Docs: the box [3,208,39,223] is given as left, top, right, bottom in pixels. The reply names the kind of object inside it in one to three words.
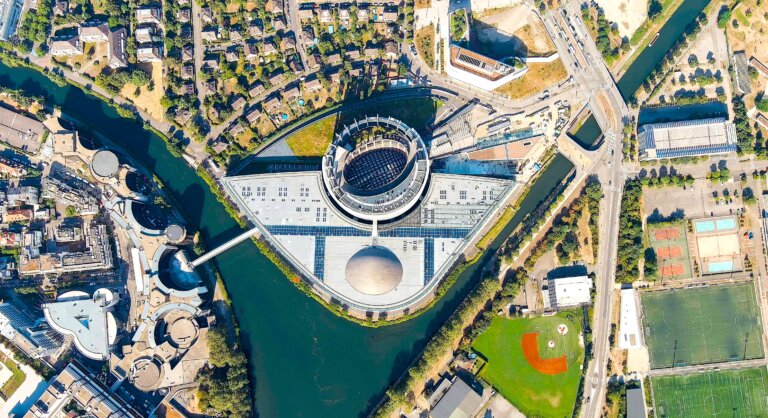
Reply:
house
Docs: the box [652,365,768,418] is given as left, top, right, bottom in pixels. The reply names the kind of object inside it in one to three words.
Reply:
soccer field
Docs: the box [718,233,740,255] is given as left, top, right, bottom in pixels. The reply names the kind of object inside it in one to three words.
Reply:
sports court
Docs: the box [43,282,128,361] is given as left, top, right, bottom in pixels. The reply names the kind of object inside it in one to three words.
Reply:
building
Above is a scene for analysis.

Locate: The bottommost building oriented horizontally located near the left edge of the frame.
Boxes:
[22,357,153,418]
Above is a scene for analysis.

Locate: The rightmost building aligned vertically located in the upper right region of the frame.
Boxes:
[730,50,750,94]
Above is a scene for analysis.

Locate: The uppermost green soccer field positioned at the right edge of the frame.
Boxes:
[641,280,766,368]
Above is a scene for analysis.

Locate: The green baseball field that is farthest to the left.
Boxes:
[472,311,585,418]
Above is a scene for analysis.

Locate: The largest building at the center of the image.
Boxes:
[220,112,514,312]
